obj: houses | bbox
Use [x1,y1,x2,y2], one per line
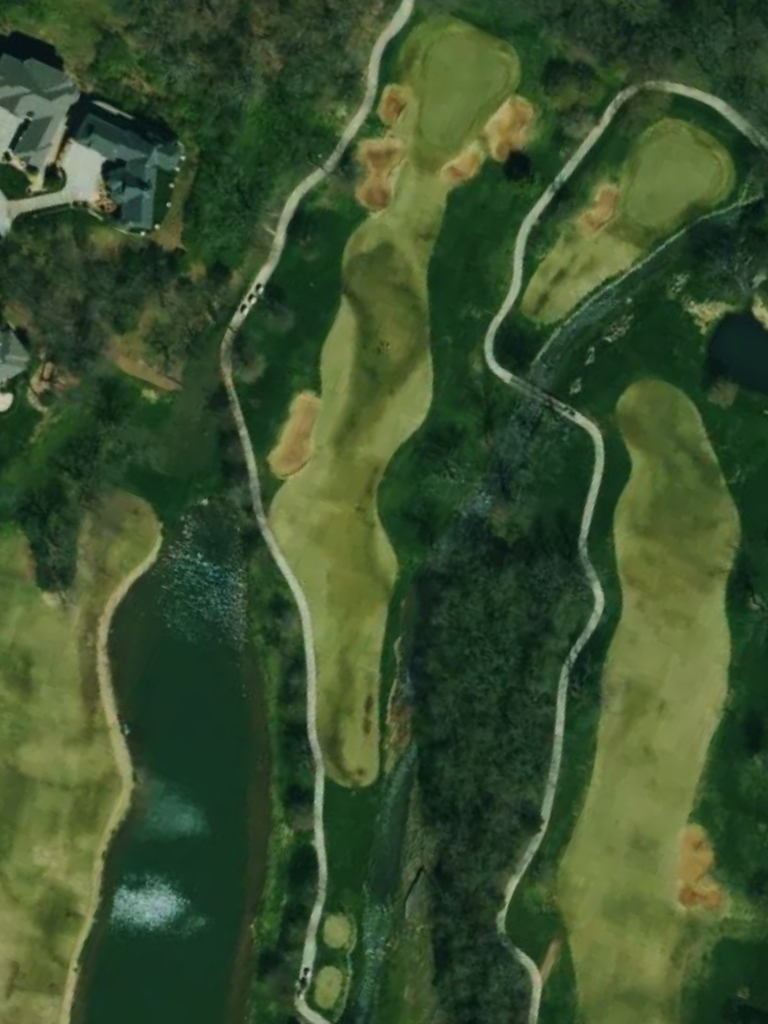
[0,48,87,169]
[0,331,29,391]
[76,100,185,229]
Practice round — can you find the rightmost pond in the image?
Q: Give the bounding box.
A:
[705,308,768,393]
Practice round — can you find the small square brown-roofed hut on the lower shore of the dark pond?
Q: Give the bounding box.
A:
[710,379,736,405]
